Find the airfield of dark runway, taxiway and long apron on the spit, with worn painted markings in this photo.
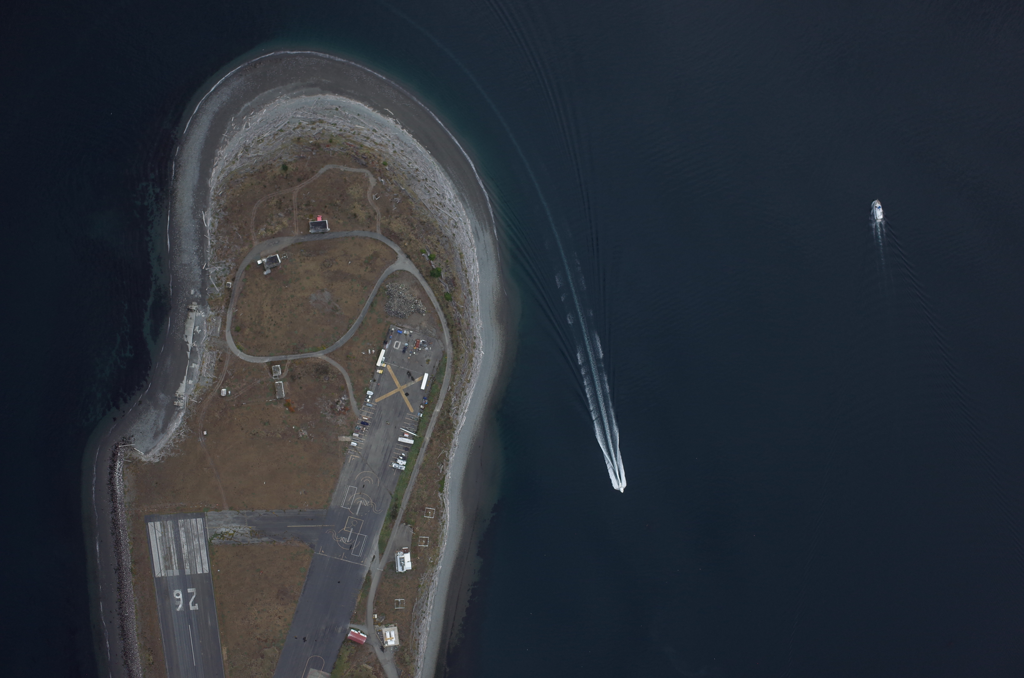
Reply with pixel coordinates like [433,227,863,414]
[145,325,443,678]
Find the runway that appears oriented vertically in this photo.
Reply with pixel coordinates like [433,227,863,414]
[145,512,225,678]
